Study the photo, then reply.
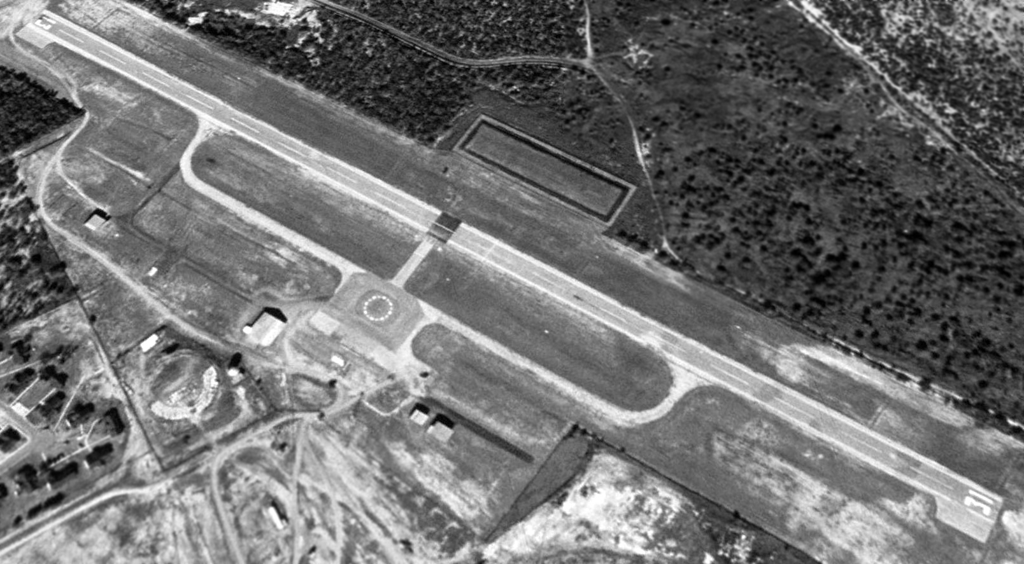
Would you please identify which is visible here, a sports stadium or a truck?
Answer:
sports stadium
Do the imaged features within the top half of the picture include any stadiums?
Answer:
No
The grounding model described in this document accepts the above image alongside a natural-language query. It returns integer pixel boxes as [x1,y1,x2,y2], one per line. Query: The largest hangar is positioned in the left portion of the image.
[248,312,286,349]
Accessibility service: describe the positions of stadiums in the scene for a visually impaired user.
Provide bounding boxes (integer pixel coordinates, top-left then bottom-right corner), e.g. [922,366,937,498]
[152,357,218,421]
